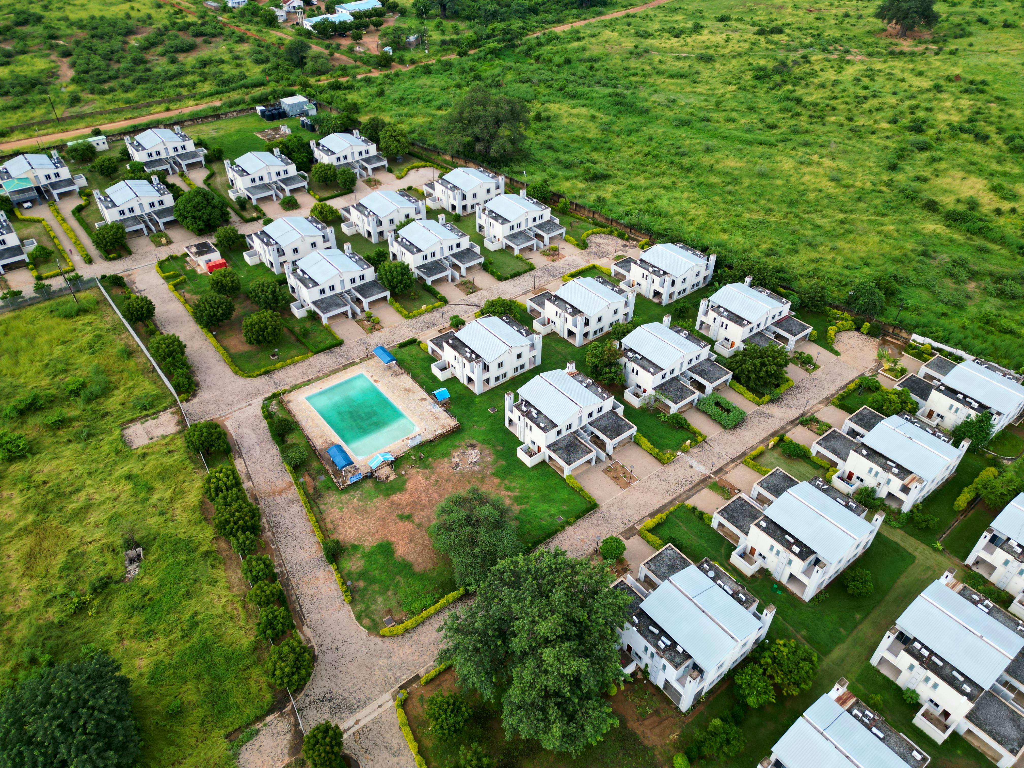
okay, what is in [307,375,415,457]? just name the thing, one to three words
swimming pool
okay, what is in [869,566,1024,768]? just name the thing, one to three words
house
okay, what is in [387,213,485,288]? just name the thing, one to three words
house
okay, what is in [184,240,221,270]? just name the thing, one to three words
building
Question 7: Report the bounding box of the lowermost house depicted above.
[756,678,930,768]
